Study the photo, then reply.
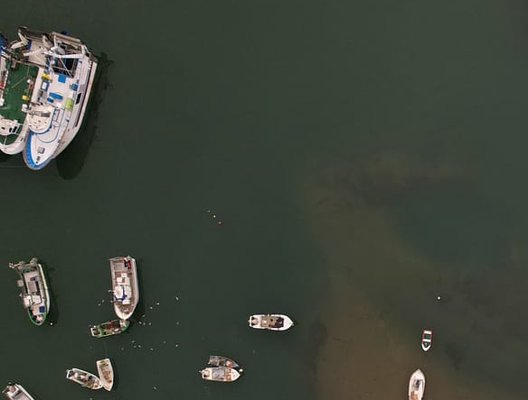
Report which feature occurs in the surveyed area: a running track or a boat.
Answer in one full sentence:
It is a boat that can be seen here.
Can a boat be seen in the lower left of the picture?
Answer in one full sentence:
Yes, looking in the lower left of the picture, one can make out a boat.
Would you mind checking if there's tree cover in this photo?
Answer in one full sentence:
No, the picture contains no tree cover.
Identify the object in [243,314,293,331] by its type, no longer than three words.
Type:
boat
